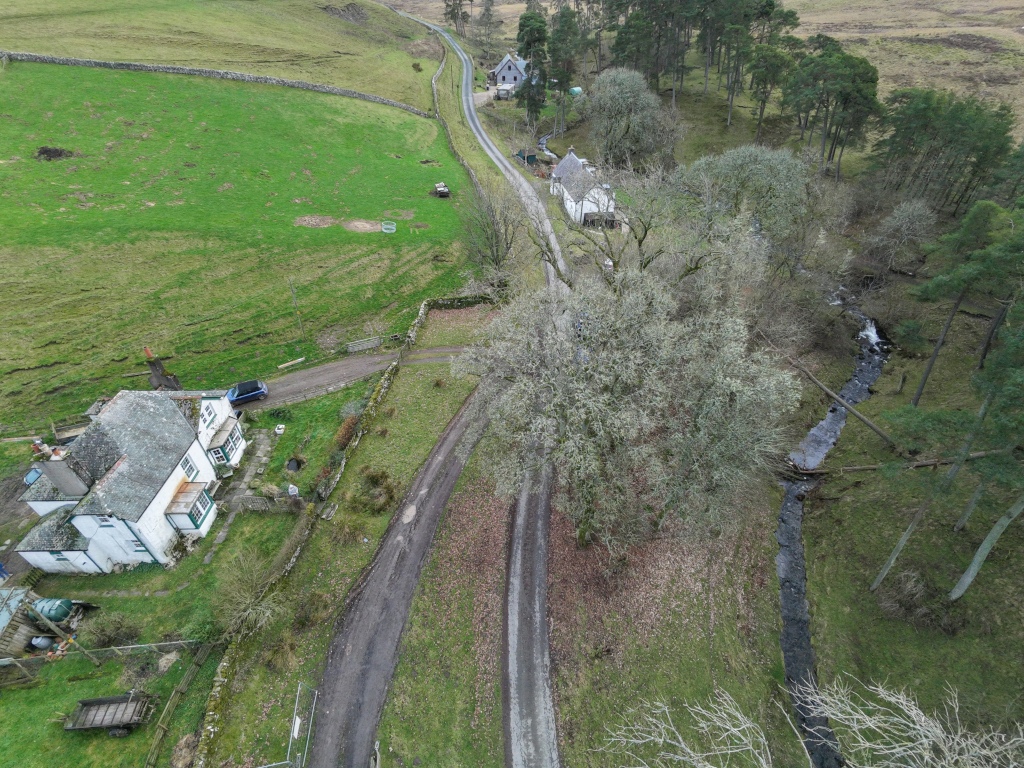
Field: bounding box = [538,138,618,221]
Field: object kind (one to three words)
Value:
house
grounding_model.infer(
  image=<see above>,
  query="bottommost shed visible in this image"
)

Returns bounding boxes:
[0,591,41,671]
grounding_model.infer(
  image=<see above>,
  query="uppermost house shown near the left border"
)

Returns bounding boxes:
[15,343,249,581]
